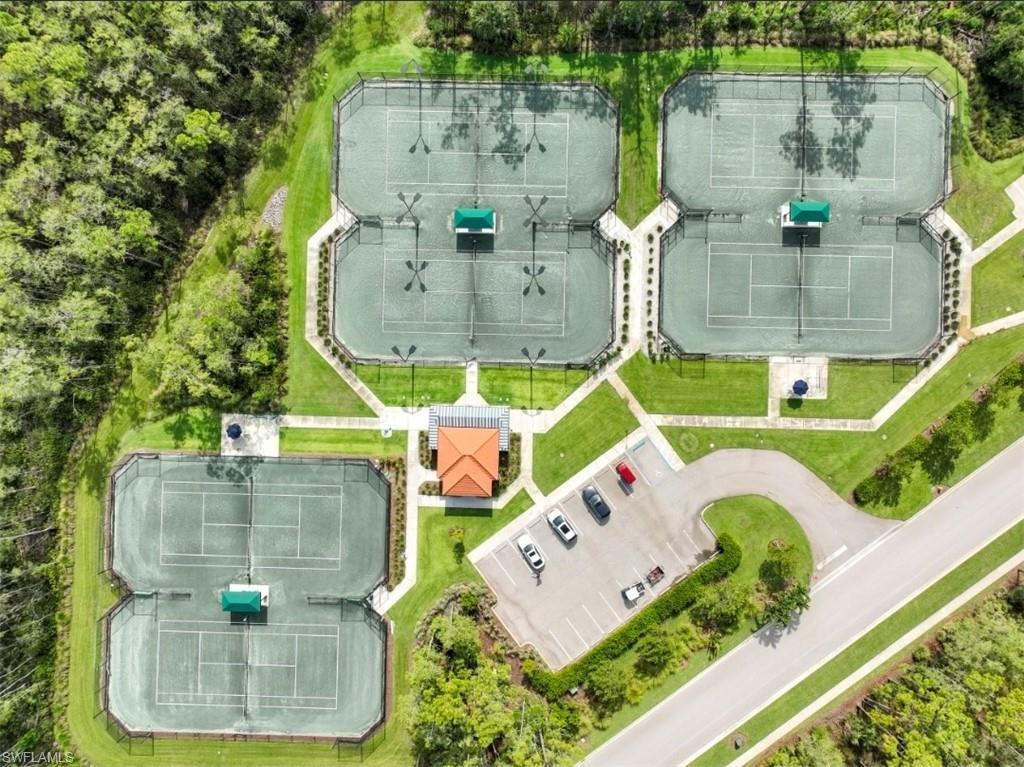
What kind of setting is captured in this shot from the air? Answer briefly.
sports ground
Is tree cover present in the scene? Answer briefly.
Yes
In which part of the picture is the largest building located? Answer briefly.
center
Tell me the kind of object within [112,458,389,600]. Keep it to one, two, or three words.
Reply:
tennis court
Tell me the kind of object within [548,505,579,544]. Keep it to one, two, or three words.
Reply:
car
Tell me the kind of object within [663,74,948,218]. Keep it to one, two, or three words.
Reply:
tennis court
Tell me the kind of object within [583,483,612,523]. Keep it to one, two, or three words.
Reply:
car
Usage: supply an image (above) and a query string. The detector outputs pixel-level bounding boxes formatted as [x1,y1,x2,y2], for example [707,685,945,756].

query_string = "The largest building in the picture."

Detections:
[429,405,510,496]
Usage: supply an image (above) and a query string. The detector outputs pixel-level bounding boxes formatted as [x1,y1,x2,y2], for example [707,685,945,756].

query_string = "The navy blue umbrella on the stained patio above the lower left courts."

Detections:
[226,423,242,439]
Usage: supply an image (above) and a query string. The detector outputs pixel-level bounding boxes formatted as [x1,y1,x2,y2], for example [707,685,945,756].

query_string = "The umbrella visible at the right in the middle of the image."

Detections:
[792,379,809,396]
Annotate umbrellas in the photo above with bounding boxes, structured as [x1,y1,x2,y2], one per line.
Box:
[226,423,242,439]
[792,379,809,396]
